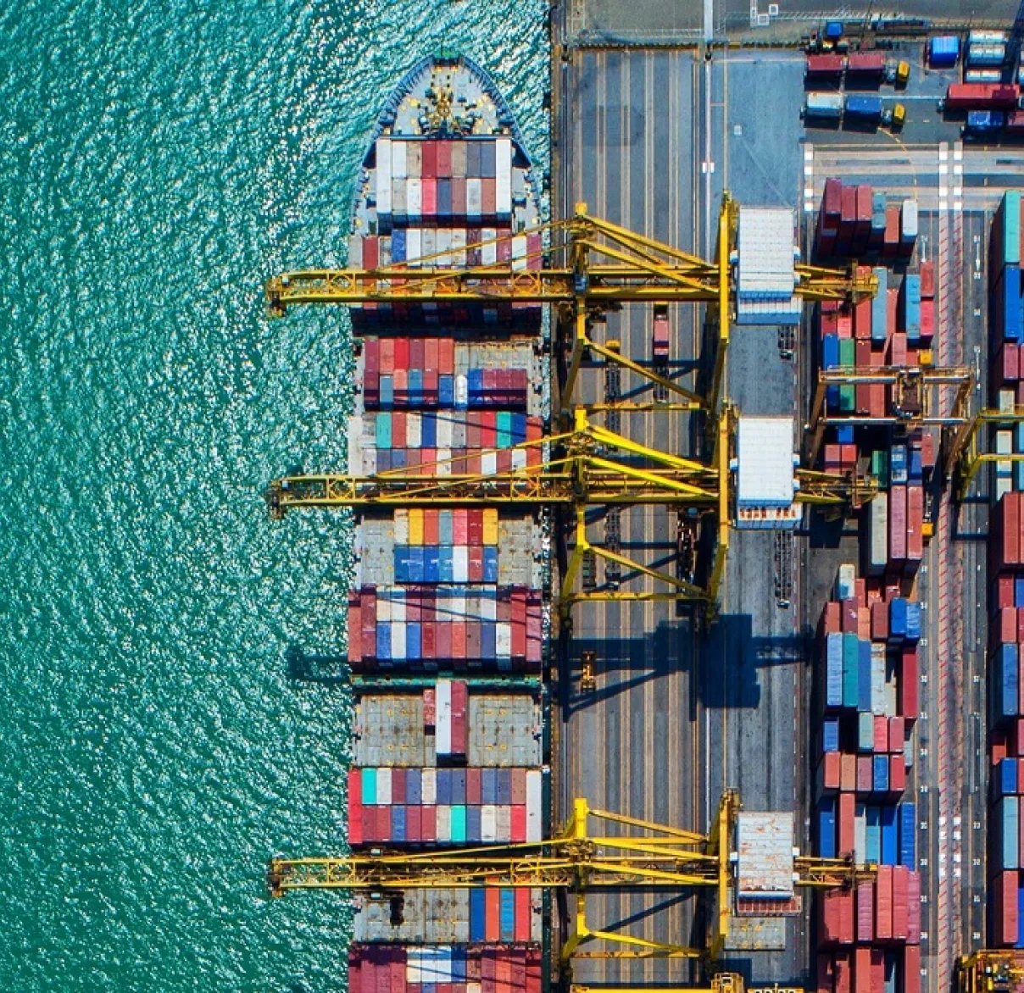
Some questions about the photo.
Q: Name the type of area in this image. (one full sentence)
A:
The area seen from above is a port.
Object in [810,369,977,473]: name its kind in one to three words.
container crane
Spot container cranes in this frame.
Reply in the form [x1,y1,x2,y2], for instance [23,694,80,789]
[266,394,880,620]
[266,188,880,432]
[810,369,977,473]
[1005,0,1024,82]
[957,947,1024,993]
[266,783,880,975]
[961,406,1024,507]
